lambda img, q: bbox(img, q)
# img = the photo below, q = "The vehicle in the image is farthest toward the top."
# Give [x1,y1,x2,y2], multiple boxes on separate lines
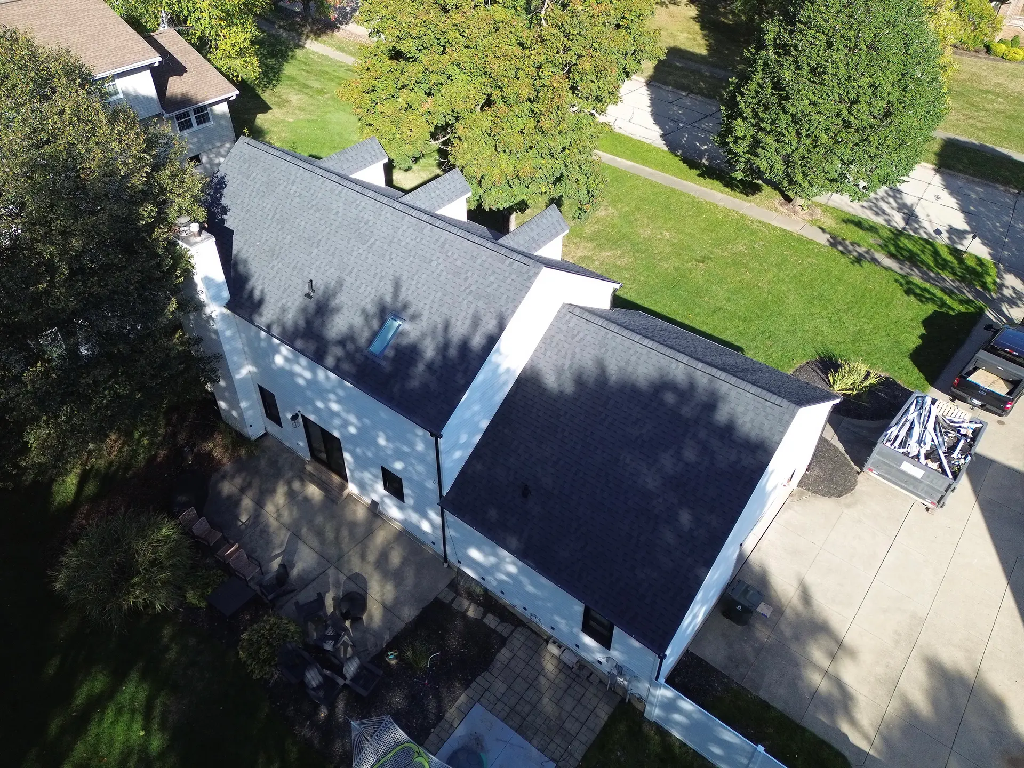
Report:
[947,318,1024,419]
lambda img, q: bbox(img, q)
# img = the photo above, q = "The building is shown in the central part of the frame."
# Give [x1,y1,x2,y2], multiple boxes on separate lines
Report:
[166,136,842,715]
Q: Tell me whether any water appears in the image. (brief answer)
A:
No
